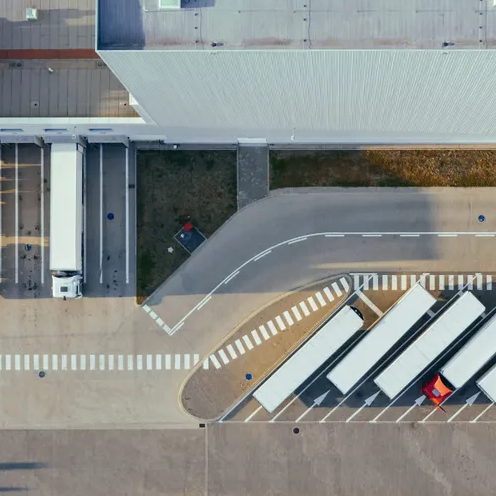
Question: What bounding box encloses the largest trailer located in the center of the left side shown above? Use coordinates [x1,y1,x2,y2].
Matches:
[52,143,83,273]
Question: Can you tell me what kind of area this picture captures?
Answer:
industrial area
